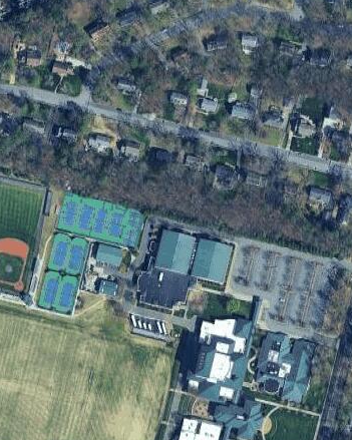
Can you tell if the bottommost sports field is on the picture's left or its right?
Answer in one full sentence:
The bottommost sports field sits on the left side.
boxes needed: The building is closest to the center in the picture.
[155,230,196,275]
